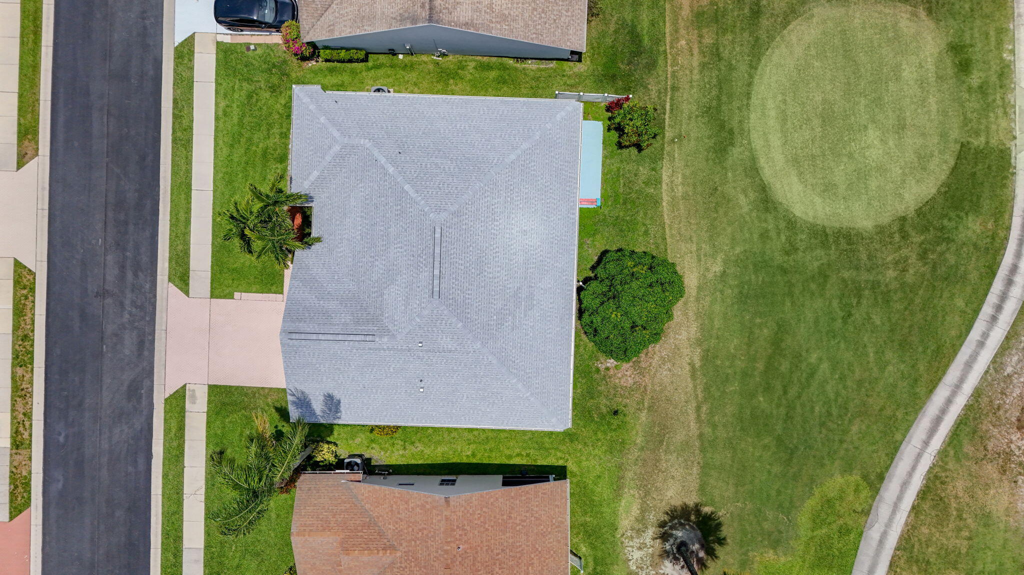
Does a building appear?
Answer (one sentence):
Yes, there's a building down there.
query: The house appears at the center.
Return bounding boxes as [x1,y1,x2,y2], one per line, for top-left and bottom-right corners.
[280,84,583,431]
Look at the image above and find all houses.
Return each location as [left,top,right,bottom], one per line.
[296,0,589,59]
[291,468,570,575]
[280,84,583,431]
